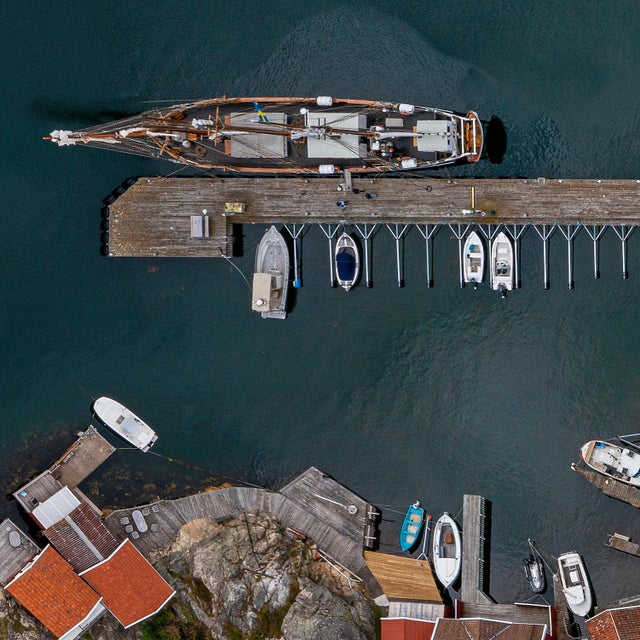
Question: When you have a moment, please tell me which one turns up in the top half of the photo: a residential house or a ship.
ship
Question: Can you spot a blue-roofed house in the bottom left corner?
No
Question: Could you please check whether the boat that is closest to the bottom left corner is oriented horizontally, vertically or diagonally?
diagonally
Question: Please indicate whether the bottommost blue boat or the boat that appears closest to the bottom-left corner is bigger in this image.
the boat that appears closest to the bottom-left corner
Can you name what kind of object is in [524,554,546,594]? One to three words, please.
boat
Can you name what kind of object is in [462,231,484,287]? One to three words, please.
boat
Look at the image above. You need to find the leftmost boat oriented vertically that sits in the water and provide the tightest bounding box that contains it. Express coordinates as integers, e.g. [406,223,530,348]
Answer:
[253,224,292,318]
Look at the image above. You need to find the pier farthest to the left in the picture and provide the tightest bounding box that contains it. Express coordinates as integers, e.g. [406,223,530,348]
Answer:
[50,426,116,489]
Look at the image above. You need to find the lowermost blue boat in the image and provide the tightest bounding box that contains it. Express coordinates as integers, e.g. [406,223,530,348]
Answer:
[399,500,424,551]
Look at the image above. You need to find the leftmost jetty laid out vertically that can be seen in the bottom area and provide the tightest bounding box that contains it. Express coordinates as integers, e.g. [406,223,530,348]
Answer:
[459,495,496,604]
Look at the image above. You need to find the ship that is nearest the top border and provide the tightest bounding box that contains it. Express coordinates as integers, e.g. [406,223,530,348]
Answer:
[44,96,484,174]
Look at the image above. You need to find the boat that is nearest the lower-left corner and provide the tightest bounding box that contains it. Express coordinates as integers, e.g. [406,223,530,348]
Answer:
[94,395,159,452]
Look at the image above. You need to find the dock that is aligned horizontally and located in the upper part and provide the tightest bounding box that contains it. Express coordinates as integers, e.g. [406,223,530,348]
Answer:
[109,178,640,257]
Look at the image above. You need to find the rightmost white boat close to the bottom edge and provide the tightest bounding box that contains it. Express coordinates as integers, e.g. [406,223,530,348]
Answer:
[558,549,593,618]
